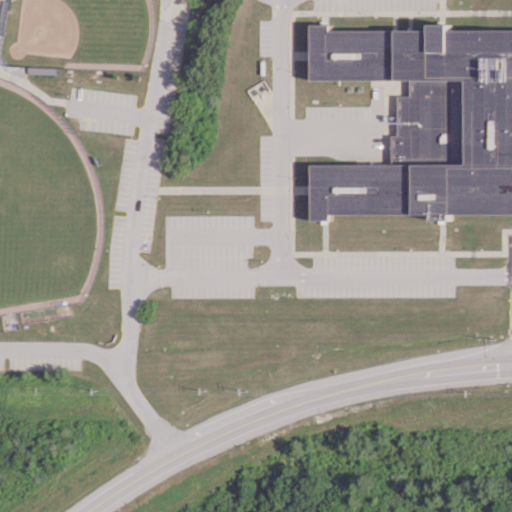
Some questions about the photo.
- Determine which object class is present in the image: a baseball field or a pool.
baseball field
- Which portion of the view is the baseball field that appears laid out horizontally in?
top left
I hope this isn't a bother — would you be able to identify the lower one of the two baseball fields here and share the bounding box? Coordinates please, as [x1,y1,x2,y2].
[0,78,104,316]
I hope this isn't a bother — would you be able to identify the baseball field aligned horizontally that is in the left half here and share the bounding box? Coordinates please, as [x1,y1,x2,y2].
[10,0,155,70]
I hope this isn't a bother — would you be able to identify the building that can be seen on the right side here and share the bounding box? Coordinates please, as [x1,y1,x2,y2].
[308,22,512,225]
